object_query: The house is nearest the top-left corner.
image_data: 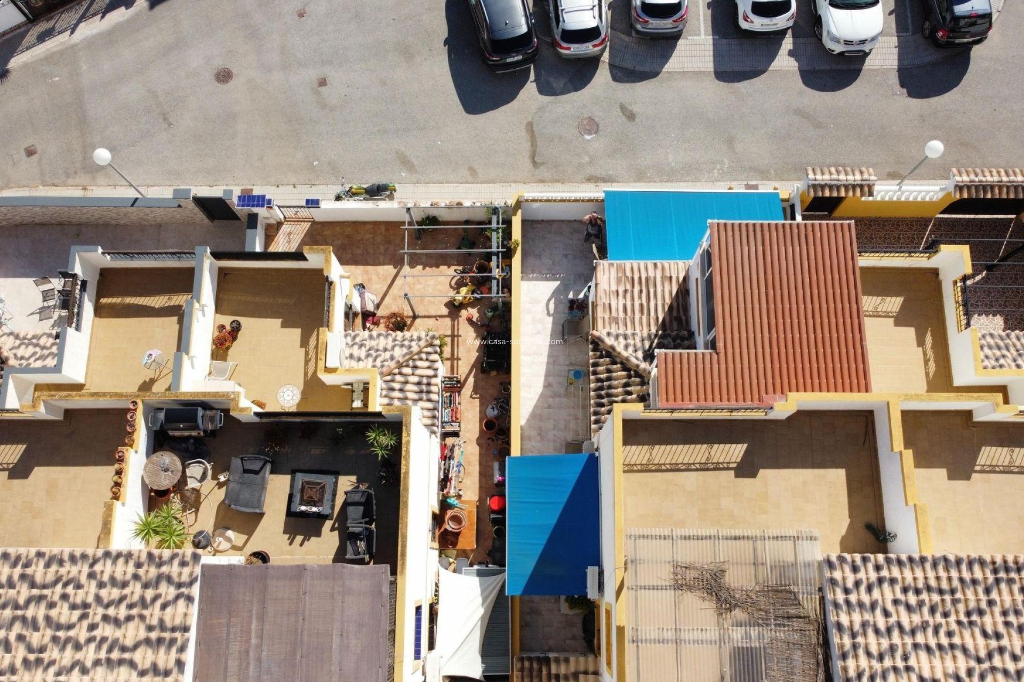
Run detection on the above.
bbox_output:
[0,243,219,404]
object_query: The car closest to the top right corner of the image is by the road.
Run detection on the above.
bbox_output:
[917,0,996,52]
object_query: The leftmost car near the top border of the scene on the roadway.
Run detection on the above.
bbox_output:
[468,0,539,74]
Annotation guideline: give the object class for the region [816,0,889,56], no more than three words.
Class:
car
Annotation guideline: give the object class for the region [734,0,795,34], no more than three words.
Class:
car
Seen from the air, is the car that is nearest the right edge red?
No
